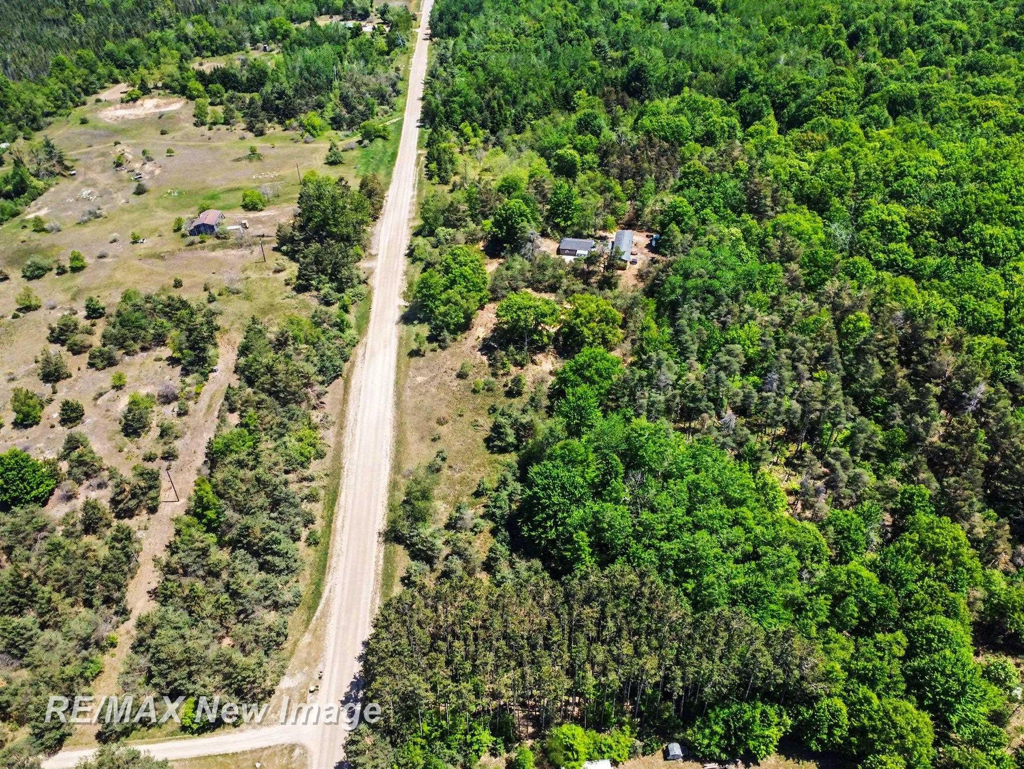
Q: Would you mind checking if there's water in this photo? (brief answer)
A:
No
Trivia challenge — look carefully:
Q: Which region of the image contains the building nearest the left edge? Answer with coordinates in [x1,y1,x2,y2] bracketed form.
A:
[184,211,224,239]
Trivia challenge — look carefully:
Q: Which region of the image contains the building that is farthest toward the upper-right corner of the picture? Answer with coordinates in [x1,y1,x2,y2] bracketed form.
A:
[605,232,634,272]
